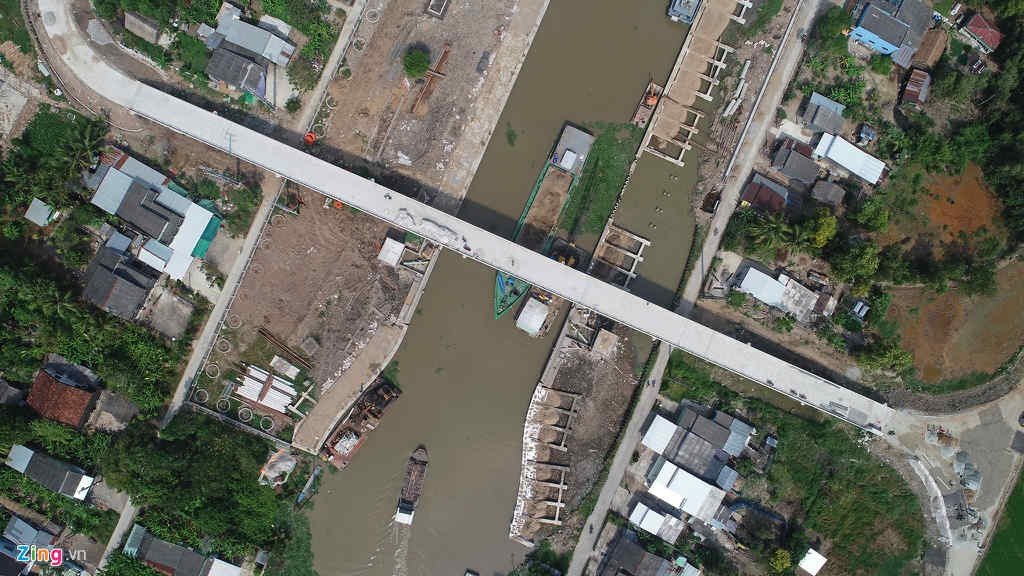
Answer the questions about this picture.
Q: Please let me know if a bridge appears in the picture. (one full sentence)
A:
Yes, this view includes a bridge.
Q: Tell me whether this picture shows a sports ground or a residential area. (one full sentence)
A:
It's a residential area.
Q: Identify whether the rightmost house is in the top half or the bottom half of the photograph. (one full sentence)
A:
The top half of the photo is where the rightmost house is.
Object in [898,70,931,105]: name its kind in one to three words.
shed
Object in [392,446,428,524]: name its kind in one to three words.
boat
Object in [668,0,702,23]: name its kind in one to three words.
boat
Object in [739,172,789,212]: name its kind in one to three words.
house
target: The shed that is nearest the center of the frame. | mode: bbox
[377,238,406,266]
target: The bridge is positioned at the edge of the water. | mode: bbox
[123,80,894,435]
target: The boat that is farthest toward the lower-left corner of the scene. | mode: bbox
[298,466,320,503]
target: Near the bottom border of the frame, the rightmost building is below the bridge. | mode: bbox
[801,546,827,575]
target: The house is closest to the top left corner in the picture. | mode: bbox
[121,12,166,46]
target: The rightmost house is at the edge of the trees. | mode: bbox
[958,14,1003,56]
